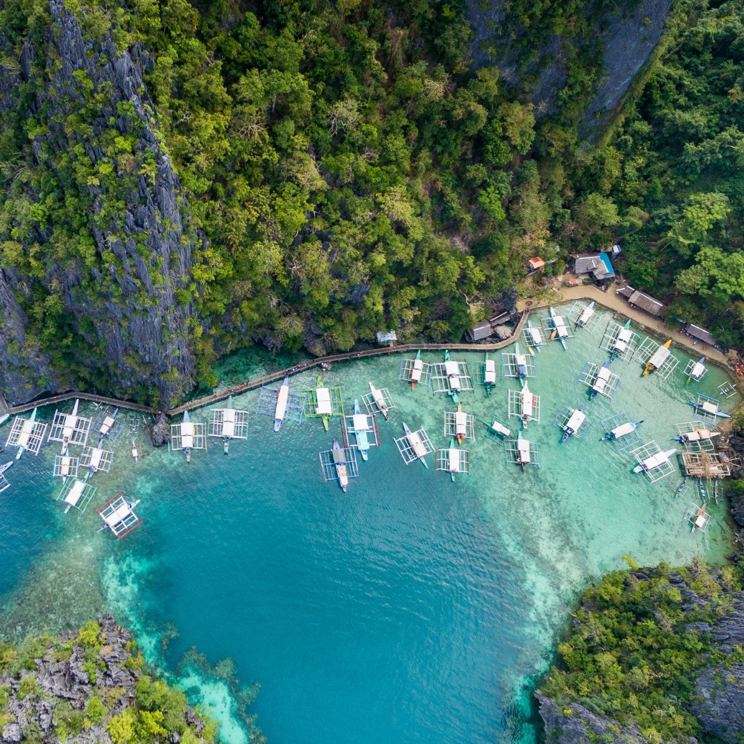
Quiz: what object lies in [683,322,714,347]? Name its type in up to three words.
shed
